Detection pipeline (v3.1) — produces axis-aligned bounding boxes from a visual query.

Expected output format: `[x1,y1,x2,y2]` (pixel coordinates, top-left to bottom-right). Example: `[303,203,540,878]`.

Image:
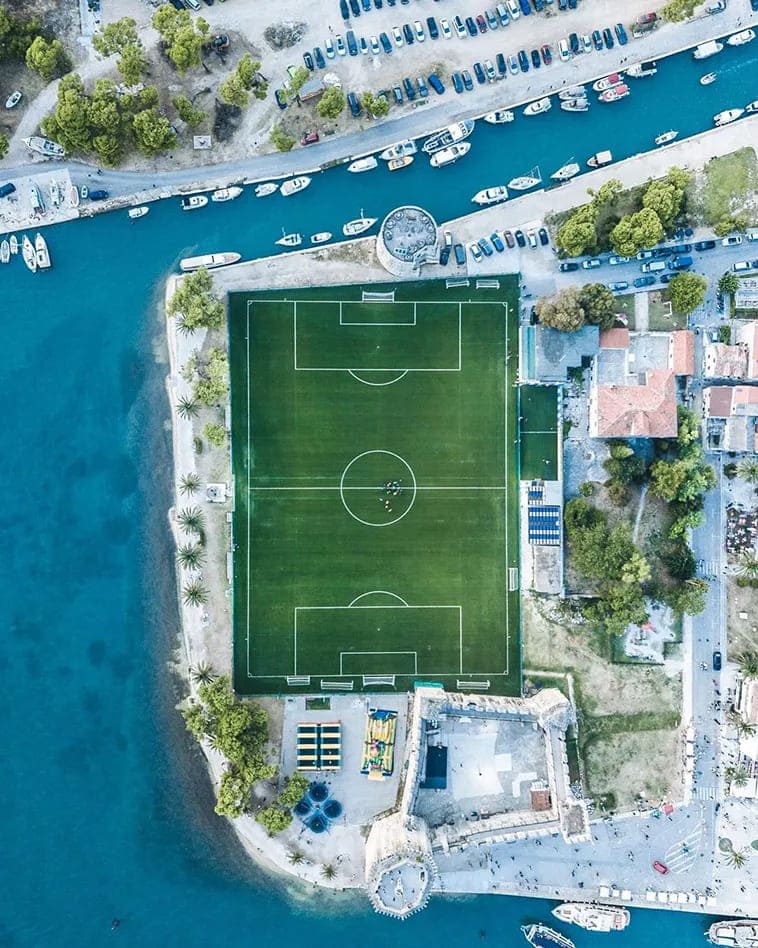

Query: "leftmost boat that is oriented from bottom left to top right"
[2,89,19,108]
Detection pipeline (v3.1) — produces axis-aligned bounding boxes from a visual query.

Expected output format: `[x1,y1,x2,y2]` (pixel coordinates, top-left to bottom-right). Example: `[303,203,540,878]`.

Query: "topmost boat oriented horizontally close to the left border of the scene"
[20,137,68,156]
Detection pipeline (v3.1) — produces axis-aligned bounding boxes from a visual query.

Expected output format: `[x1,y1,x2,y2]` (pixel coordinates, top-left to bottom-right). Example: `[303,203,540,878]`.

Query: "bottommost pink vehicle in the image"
[652,861,669,876]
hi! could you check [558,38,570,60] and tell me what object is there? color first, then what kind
white vehicle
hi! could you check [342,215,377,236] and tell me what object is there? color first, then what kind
white boat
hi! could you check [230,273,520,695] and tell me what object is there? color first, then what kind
green soccer field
